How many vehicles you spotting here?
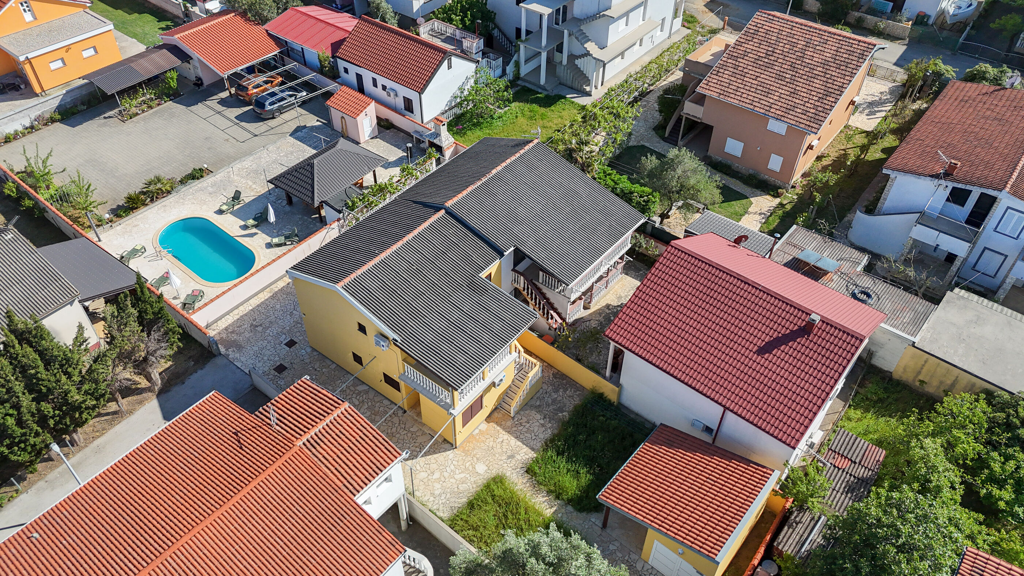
2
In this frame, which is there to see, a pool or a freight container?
pool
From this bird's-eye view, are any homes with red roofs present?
Yes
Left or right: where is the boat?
right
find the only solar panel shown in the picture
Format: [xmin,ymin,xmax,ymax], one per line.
[783,243,842,282]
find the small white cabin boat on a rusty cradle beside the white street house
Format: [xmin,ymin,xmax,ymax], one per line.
[937,0,987,34]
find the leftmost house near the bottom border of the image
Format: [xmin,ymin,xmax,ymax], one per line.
[0,373,446,576]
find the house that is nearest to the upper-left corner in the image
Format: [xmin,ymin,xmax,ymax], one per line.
[0,0,123,93]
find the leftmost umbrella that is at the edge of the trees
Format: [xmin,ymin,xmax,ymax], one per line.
[165,265,182,298]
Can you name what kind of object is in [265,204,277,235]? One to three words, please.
umbrella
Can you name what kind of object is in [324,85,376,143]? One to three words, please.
shed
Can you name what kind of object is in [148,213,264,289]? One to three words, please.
swimming pool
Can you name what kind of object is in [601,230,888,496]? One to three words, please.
house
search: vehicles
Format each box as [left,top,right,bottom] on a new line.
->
[250,83,313,119]
[235,71,292,104]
